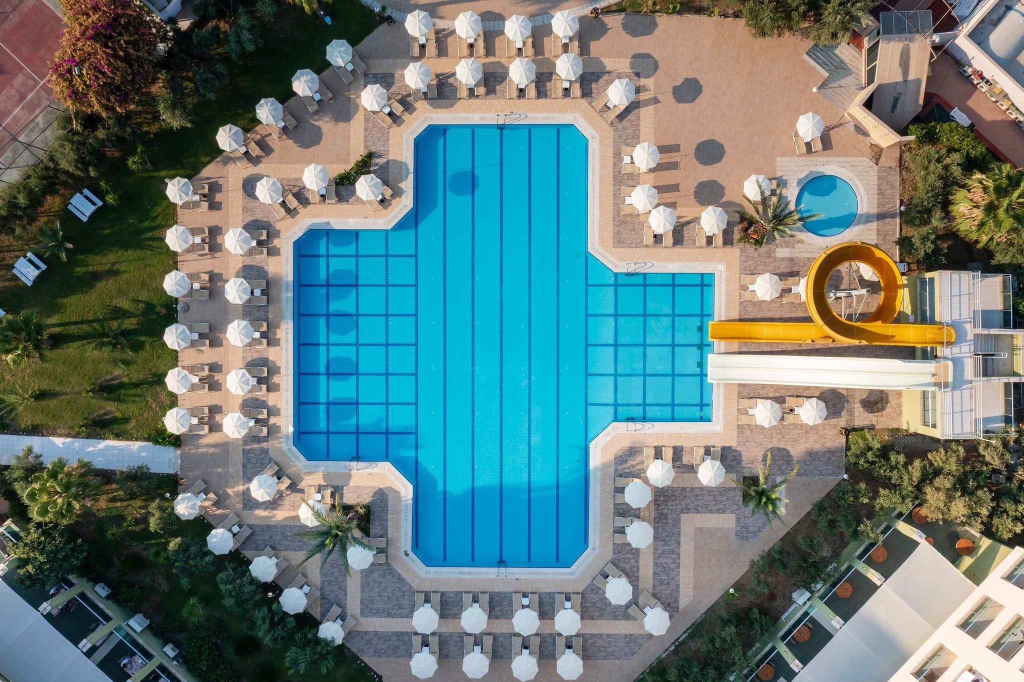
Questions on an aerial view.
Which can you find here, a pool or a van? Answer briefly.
pool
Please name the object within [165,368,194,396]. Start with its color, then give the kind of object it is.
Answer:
white umbrella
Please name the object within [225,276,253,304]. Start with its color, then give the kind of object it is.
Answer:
white umbrella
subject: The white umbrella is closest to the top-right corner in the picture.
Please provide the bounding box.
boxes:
[791,113,821,142]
